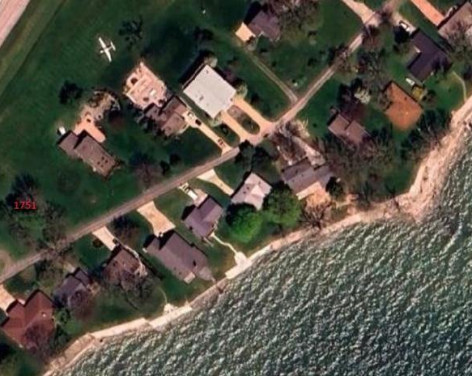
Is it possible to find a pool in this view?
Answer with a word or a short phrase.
No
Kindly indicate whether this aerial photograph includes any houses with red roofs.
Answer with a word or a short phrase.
Yes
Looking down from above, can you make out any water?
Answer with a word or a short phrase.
Yes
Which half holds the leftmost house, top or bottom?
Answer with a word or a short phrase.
bottom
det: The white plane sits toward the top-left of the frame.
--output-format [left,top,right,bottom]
[98,38,115,60]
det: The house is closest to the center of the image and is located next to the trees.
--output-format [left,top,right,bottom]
[236,174,272,211]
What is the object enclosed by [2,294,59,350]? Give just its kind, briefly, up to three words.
house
